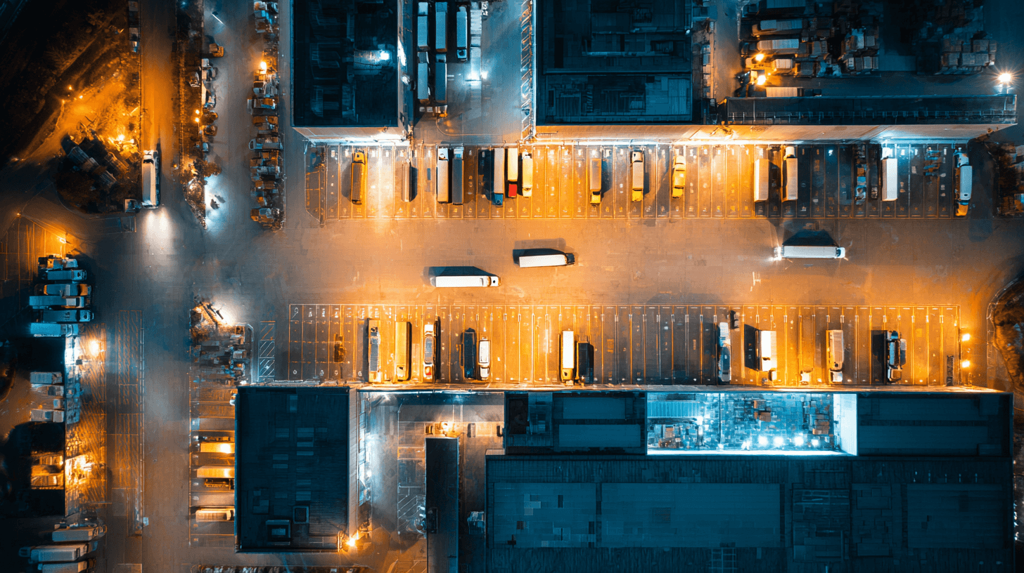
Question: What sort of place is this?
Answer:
industrial area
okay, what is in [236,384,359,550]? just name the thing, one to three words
warehouse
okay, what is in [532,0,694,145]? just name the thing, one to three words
warehouse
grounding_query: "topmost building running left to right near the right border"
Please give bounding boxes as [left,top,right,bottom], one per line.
[681,96,1016,145]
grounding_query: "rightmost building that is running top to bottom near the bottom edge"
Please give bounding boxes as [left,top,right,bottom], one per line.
[426,433,460,573]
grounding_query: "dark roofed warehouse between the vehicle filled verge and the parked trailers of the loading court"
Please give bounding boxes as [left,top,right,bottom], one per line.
[292,0,407,145]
